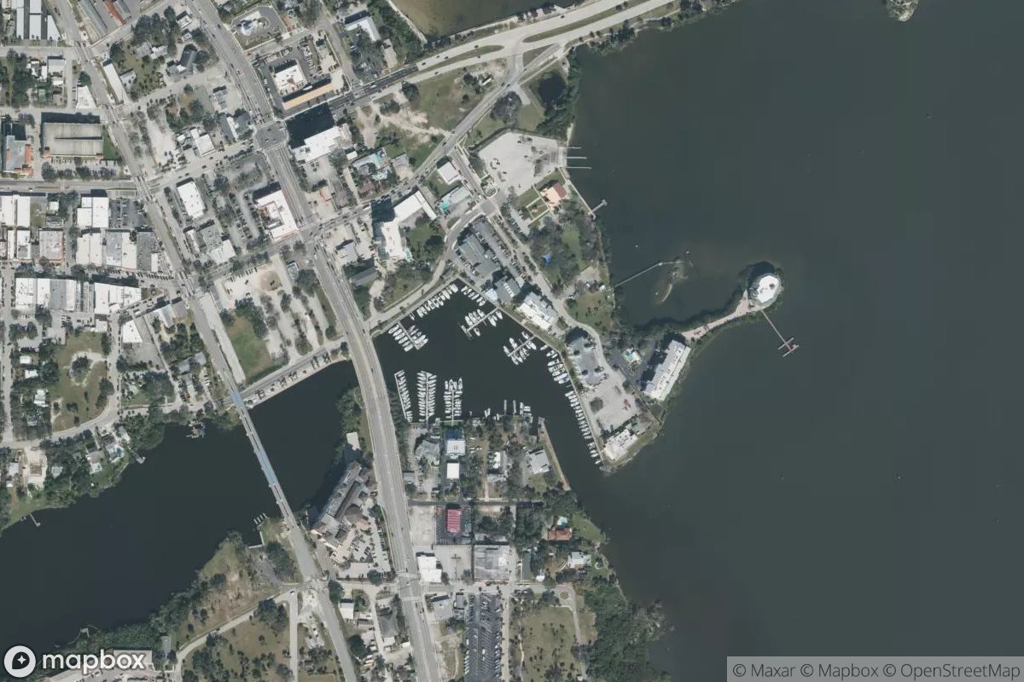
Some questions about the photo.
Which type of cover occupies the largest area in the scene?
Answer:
water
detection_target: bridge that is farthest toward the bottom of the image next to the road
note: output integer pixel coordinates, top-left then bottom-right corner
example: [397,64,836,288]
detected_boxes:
[227,387,293,518]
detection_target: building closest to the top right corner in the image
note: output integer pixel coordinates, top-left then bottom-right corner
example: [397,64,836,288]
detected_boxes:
[757,275,781,303]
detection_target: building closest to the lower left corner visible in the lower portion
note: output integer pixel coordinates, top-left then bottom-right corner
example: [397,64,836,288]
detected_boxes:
[113,650,159,672]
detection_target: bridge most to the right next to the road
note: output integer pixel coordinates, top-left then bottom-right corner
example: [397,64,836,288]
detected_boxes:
[346,336,386,392]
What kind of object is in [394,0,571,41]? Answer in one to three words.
pond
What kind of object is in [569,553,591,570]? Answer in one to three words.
house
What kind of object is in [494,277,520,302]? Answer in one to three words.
building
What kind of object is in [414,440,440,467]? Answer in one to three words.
building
